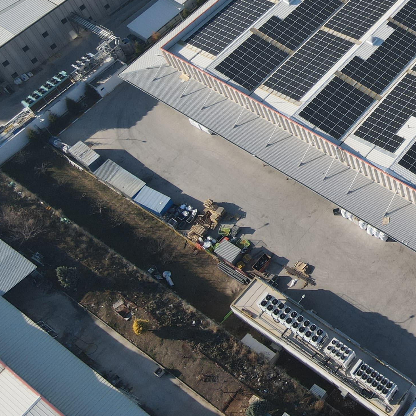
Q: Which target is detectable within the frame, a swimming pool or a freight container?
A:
freight container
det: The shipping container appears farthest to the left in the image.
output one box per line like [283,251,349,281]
[69,140,104,173]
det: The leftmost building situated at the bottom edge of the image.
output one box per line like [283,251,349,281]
[0,298,148,416]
